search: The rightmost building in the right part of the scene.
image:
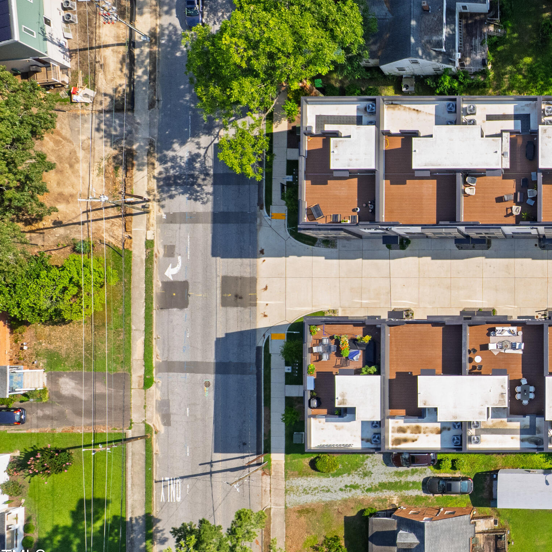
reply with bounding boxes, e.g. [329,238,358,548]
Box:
[497,469,552,509]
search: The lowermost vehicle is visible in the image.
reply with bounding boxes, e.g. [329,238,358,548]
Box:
[428,474,473,496]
